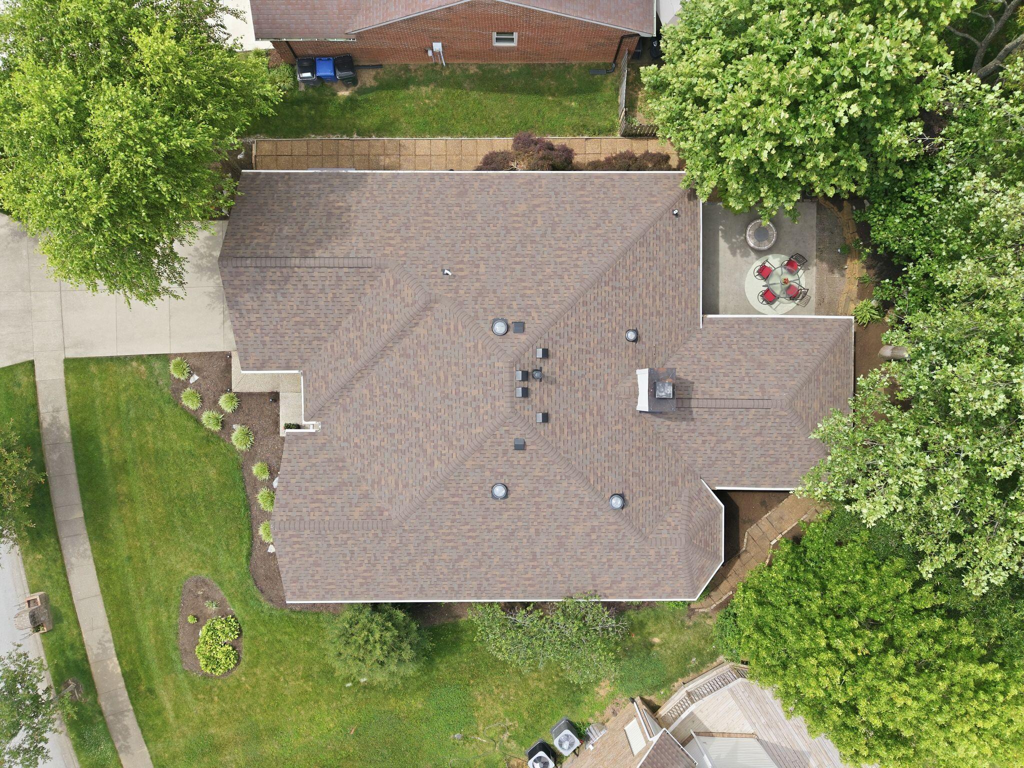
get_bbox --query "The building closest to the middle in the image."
[218,168,855,606]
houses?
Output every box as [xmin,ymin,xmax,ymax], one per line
[247,0,654,73]
[563,690,779,768]
[218,168,855,606]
